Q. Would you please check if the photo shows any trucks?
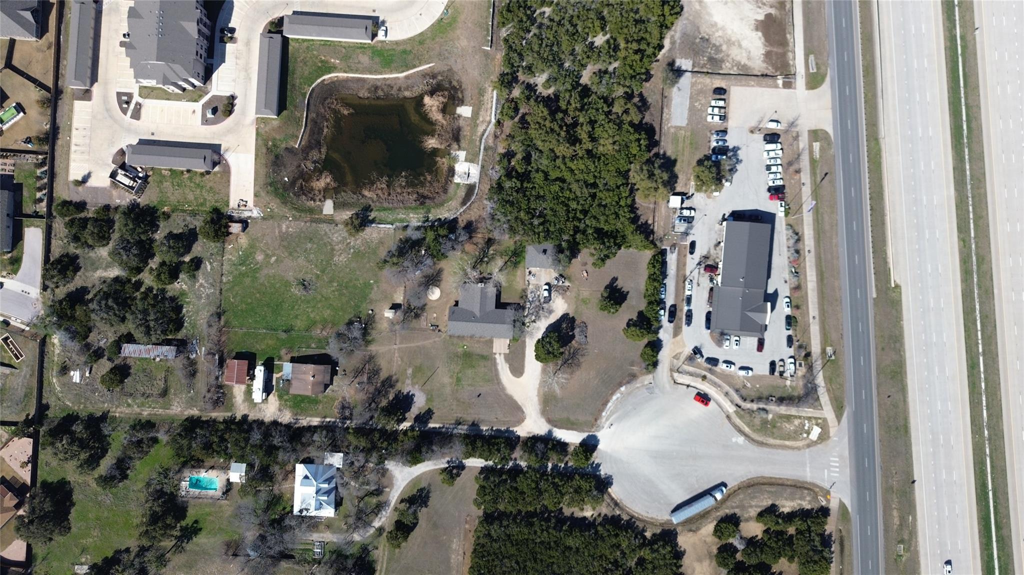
Yes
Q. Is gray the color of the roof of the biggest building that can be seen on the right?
Yes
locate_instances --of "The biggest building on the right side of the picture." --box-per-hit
[710,221,771,338]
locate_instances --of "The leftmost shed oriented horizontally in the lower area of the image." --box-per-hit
[121,344,178,359]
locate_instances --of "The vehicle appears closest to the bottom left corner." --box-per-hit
[251,366,264,401]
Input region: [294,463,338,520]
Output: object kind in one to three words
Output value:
house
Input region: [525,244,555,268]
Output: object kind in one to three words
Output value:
building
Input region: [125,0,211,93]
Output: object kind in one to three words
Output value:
building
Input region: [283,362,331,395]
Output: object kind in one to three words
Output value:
house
